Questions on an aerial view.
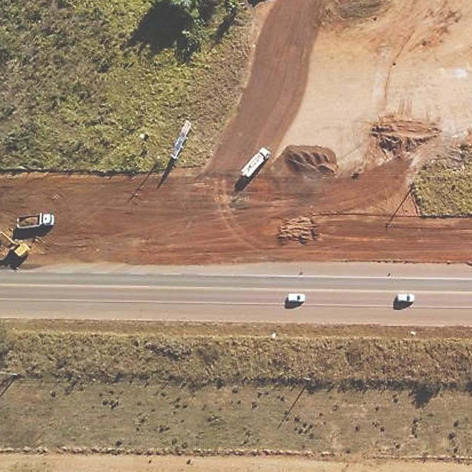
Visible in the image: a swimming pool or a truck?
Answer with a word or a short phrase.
truck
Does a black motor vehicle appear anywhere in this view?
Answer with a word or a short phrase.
No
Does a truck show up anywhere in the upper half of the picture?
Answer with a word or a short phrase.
Yes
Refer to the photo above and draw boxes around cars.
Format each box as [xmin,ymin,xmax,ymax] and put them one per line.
[398,294,415,302]
[288,293,306,302]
